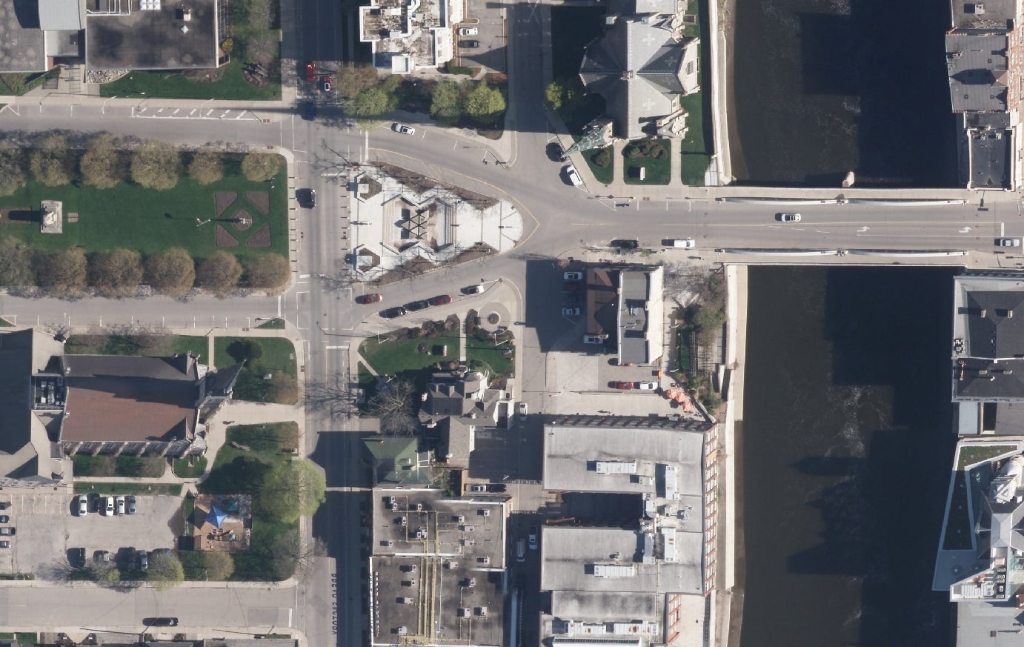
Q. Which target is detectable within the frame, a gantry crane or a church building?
church building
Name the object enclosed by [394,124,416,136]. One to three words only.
vehicle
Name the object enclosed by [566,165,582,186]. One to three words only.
car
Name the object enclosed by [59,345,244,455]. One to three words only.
building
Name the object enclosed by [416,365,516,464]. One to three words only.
house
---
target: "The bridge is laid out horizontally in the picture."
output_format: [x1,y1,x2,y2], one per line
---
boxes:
[720,169,1024,266]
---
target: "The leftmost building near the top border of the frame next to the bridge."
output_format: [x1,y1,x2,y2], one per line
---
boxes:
[564,13,699,153]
